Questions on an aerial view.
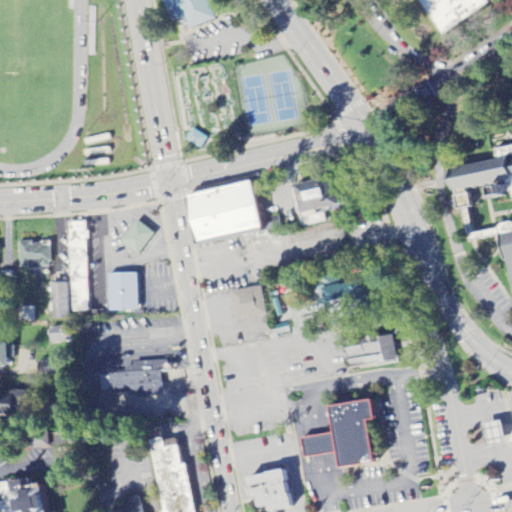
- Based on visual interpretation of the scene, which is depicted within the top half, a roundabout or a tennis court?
tennis court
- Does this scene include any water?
No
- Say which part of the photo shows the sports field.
top left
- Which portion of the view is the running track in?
top left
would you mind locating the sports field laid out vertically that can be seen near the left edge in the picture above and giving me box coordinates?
[0,0,75,164]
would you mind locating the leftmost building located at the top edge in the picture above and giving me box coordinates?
[170,0,218,30]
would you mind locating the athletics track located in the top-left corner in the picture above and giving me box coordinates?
[0,0,90,178]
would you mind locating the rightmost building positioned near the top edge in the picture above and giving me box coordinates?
[421,0,490,33]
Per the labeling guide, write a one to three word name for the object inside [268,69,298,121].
tennis court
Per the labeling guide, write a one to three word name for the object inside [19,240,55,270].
house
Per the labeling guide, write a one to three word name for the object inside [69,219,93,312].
building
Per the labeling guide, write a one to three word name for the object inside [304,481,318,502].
vehicle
